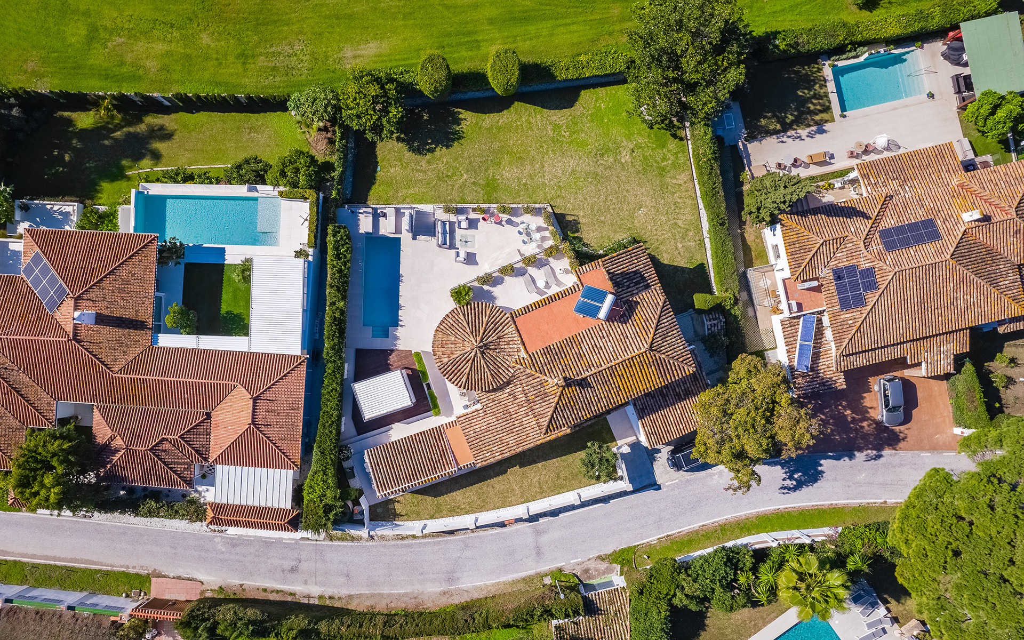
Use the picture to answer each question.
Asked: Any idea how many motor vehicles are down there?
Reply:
2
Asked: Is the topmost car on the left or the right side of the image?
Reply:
right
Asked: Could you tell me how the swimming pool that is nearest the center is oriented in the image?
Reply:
from top to bottom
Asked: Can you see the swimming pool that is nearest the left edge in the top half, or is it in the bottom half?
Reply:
top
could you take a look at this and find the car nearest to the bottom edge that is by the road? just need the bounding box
[663,441,716,477]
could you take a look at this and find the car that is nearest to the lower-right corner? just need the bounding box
[875,372,907,426]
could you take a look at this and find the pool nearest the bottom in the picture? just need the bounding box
[775,615,840,640]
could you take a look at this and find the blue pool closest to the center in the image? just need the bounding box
[363,237,400,337]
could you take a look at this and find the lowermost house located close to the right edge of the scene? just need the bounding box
[753,140,1024,396]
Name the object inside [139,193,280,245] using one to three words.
swimming pool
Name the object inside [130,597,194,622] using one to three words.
building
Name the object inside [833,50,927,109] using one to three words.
swimming pool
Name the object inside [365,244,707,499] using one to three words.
house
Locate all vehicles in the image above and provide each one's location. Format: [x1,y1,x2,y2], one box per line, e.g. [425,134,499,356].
[663,441,716,477]
[875,372,907,426]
